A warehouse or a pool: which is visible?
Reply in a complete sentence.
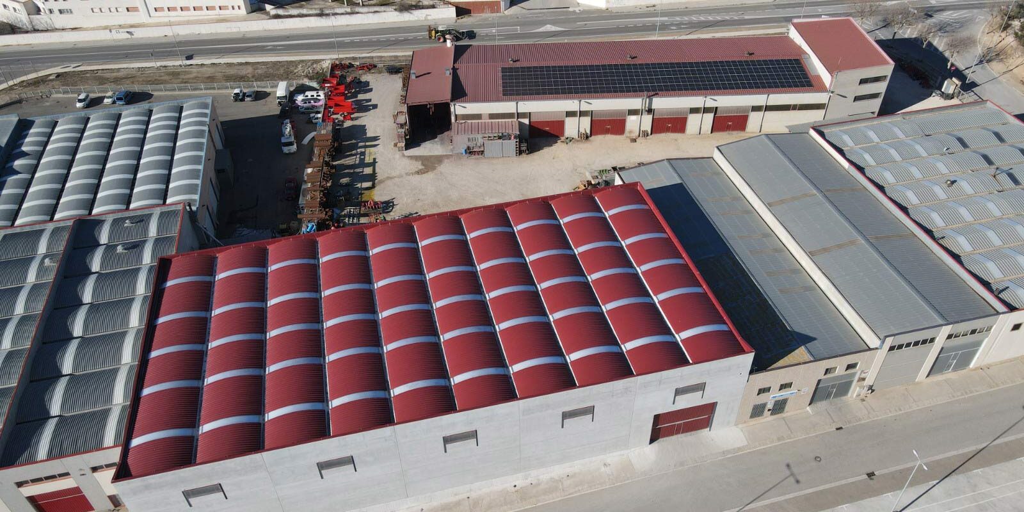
This aerial view contains a warehouse.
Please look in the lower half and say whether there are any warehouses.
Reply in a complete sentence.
Yes, the scene does show a warehouse in the lower half.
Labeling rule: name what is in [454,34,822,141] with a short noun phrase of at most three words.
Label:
building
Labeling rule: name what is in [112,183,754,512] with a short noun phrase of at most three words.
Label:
warehouse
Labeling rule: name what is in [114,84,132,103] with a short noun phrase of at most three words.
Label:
car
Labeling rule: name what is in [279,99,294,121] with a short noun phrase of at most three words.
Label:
vehicle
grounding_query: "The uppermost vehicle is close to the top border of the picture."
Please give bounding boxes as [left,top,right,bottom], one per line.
[429,23,470,41]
